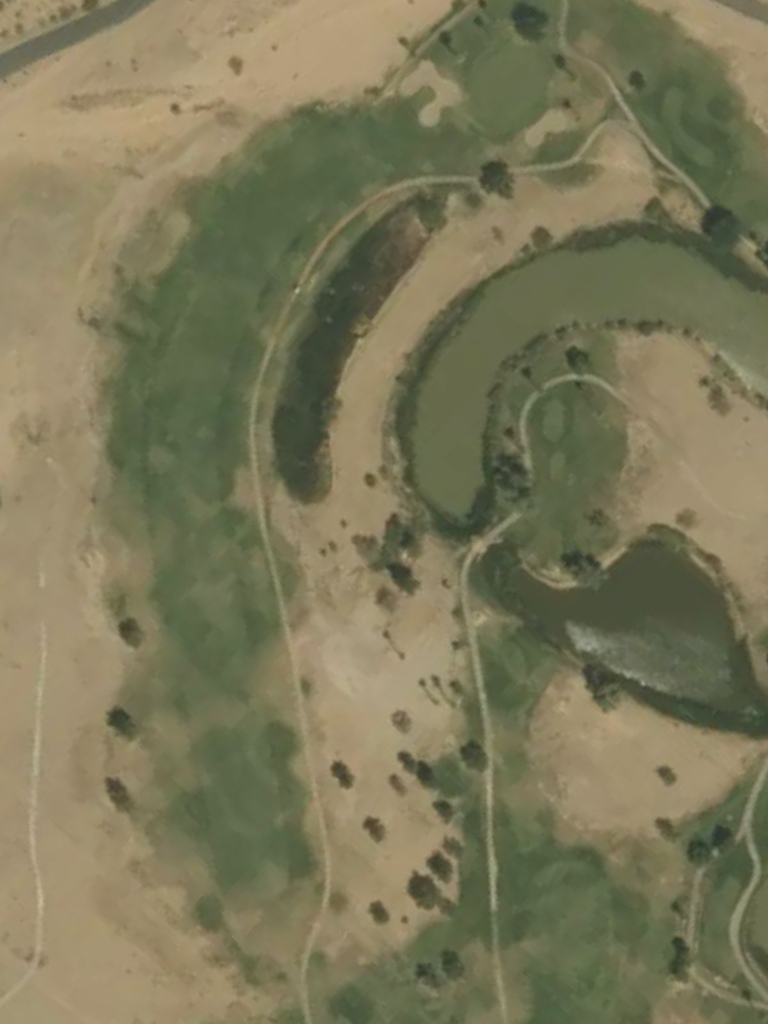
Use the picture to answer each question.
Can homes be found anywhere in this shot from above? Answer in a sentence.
No, I can't see a single home in this photo.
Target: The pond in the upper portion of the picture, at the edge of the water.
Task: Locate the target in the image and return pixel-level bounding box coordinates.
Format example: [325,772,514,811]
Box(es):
[411,232,768,522]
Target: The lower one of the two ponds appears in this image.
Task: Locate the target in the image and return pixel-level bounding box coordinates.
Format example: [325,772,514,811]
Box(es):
[506,539,768,728]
